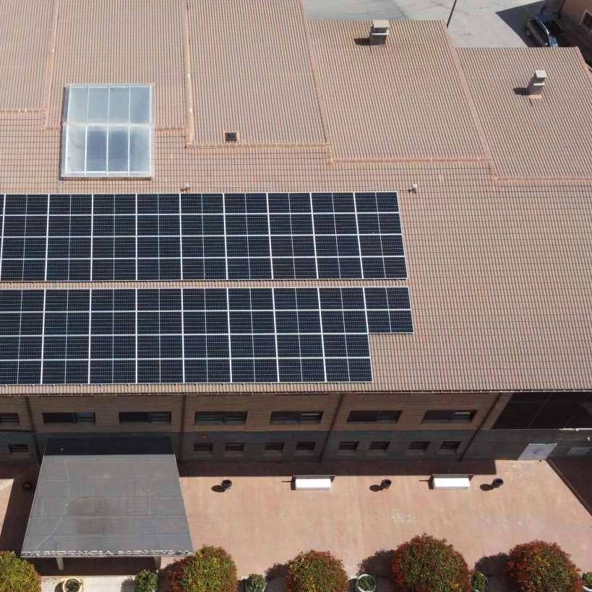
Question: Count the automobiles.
1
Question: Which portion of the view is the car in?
top right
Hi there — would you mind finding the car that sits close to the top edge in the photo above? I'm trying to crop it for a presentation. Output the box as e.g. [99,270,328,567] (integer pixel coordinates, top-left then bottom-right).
[514,6,573,48]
